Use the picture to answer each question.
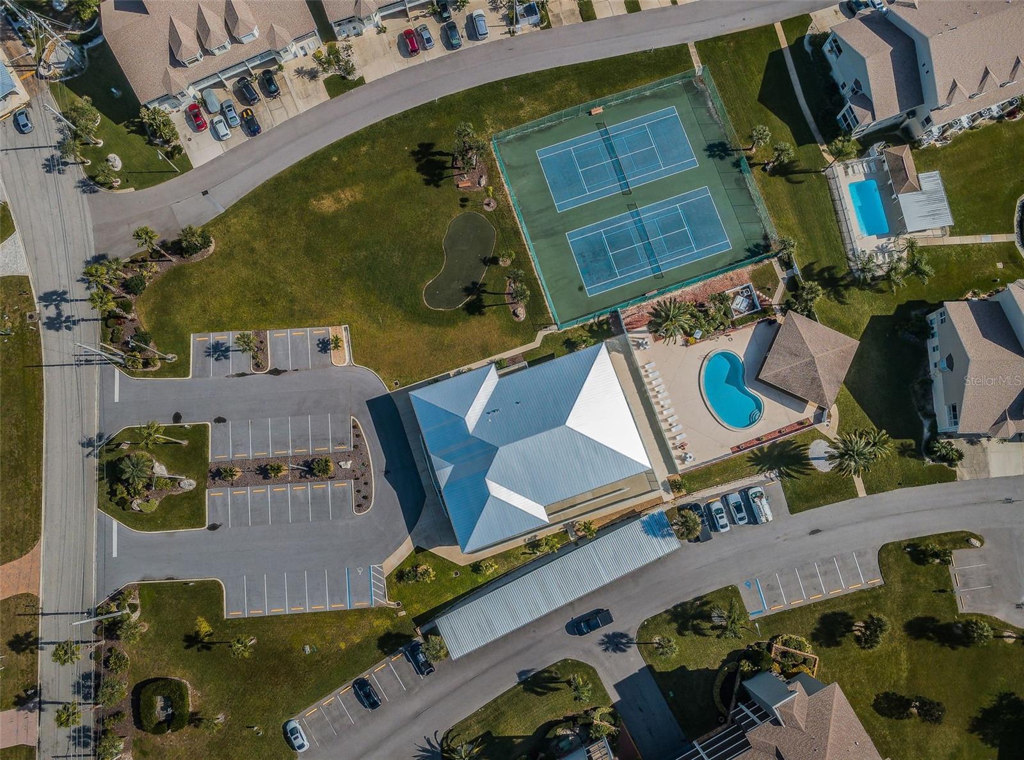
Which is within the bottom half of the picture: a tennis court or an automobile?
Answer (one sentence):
What appears within the bottom half of the picture is an automobile.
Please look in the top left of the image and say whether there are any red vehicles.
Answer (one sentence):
Yes, there is a red vehicle in the top left of the image.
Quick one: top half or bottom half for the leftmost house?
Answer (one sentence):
The top half of the photo is where the leftmost house is.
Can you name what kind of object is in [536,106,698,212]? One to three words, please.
tennis court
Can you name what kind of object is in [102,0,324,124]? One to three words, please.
house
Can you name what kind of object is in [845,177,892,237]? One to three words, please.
swimming pool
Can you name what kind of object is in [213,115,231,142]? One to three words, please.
car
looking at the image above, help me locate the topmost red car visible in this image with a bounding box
[403,29,419,56]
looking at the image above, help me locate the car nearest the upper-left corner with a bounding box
[16,107,34,135]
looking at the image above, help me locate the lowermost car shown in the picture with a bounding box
[285,718,309,755]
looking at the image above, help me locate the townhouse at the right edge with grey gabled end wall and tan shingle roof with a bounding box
[923,283,1024,445]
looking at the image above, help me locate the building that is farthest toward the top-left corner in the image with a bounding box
[0,64,28,114]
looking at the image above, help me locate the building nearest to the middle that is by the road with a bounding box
[409,342,653,556]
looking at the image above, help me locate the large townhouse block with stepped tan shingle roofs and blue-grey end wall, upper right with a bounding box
[812,0,1024,147]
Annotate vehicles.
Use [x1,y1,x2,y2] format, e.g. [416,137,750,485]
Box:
[406,639,433,681]
[261,69,279,97]
[445,22,461,50]
[708,499,728,534]
[16,107,34,135]
[189,108,206,131]
[868,0,884,17]
[748,484,772,524]
[213,115,231,142]
[239,78,257,106]
[223,100,240,127]
[285,718,309,755]
[841,0,869,15]
[417,24,433,50]
[355,676,380,712]
[568,610,614,635]
[436,0,451,22]
[473,10,488,40]
[692,501,715,540]
[242,110,260,138]
[403,29,419,56]
[727,492,746,526]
